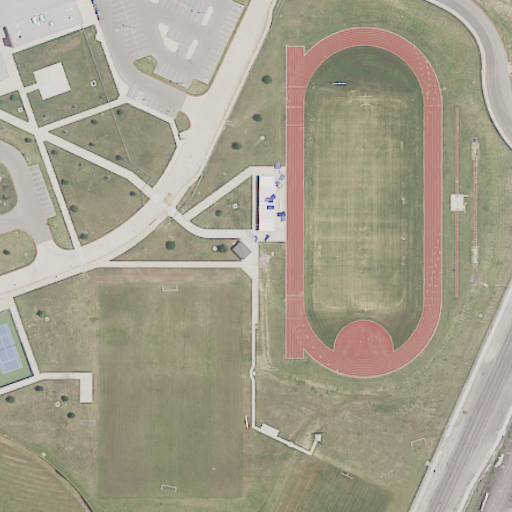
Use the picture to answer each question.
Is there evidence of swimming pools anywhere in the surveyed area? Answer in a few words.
No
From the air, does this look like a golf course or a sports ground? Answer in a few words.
sports ground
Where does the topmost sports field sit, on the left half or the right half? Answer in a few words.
right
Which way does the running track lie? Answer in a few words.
up and down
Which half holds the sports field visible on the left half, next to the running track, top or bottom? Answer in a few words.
bottom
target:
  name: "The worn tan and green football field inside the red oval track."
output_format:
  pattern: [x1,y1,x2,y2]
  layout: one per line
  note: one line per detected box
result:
[304,46,424,353]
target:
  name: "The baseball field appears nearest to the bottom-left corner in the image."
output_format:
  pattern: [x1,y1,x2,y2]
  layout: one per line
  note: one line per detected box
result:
[0,436,90,512]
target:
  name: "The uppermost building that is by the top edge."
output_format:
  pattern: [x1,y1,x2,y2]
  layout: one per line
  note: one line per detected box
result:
[0,0,84,48]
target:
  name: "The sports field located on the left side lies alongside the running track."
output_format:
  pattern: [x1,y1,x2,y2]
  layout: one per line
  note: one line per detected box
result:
[98,280,244,498]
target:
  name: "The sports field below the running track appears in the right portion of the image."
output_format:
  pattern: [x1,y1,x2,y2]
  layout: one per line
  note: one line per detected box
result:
[276,457,392,512]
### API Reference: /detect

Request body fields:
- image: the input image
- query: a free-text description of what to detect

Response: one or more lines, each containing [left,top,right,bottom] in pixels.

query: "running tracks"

[286,28,442,378]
